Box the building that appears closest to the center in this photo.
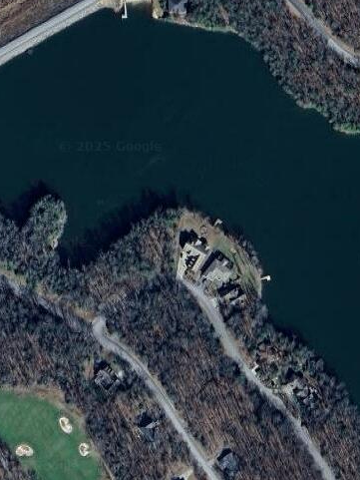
[181,231,207,263]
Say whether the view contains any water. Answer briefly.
Yes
